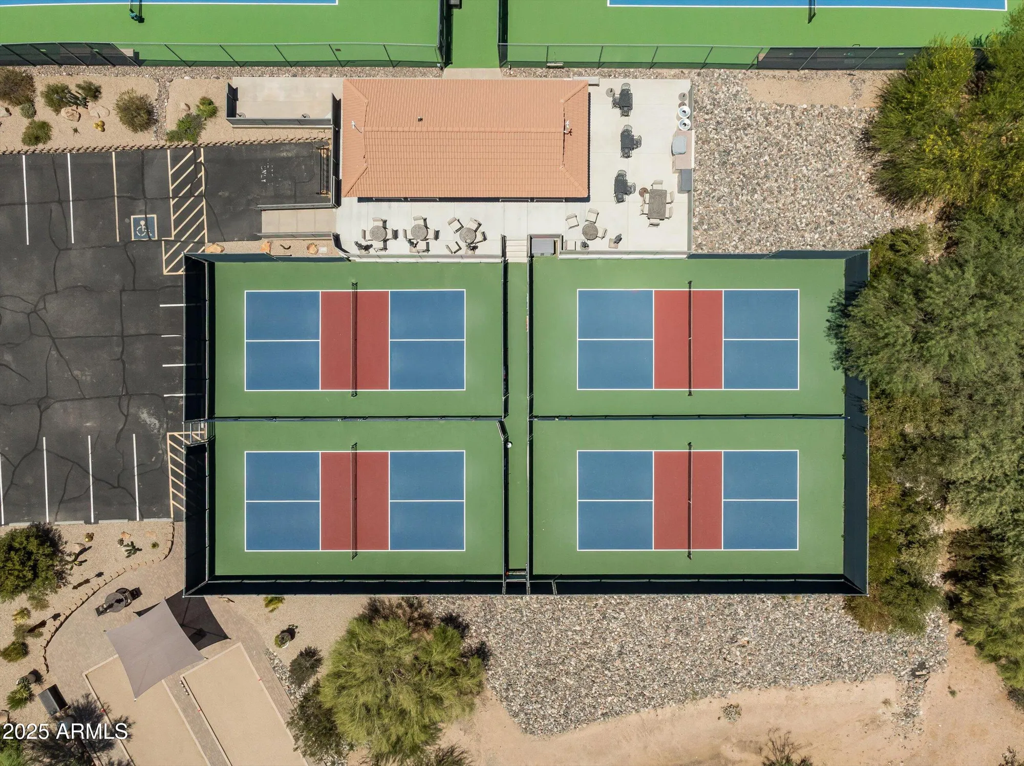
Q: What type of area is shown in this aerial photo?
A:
sports ground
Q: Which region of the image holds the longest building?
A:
top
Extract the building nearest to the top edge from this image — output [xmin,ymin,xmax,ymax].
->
[340,76,590,199]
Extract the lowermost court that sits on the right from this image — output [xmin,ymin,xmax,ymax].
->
[531,420,844,580]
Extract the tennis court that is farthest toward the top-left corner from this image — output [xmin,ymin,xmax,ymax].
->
[0,0,443,67]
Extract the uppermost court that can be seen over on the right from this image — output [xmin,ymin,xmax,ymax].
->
[500,0,1024,69]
